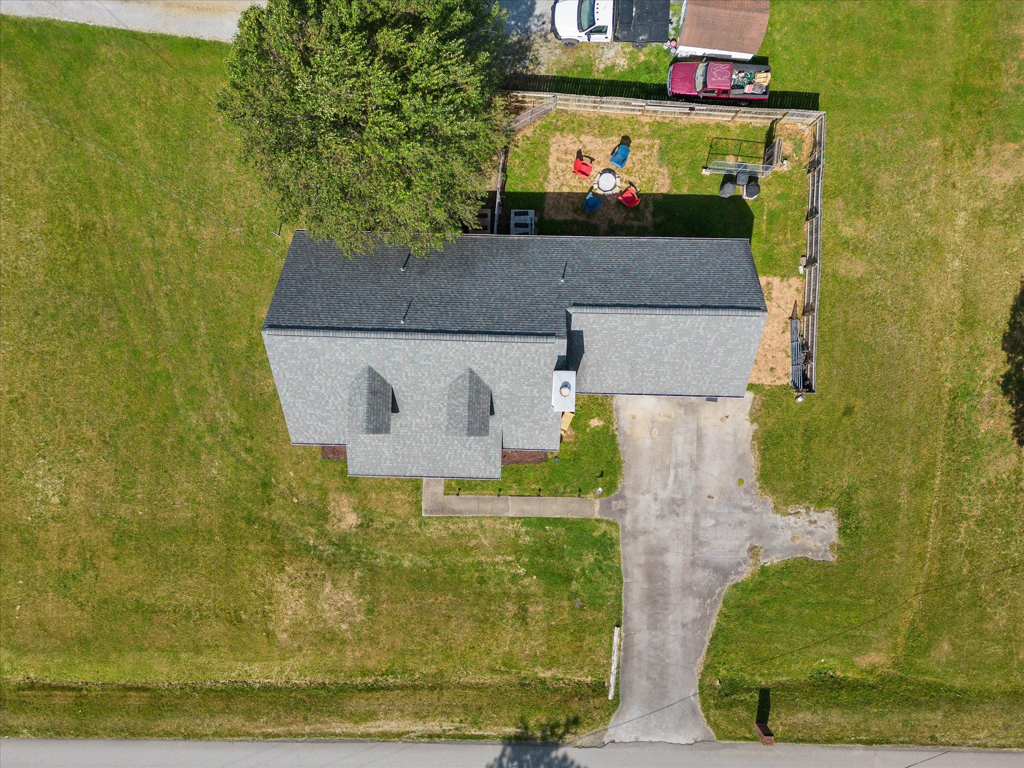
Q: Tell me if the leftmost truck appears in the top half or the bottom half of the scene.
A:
top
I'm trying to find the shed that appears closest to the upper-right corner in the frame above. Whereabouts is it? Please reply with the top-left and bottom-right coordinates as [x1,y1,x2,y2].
[675,0,774,61]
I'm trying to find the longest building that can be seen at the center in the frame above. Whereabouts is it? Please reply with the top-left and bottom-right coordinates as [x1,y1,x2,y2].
[263,228,768,481]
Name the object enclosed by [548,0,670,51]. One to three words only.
truck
